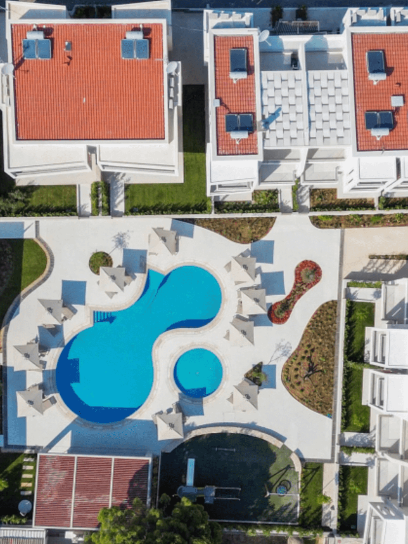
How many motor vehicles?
0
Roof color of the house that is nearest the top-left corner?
red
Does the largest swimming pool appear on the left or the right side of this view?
left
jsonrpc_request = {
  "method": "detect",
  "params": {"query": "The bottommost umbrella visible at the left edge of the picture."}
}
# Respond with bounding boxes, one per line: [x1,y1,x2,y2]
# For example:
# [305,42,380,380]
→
[15,389,45,418]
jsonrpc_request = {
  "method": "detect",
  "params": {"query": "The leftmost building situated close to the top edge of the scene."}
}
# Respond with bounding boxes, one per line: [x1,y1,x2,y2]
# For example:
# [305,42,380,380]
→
[0,0,185,182]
